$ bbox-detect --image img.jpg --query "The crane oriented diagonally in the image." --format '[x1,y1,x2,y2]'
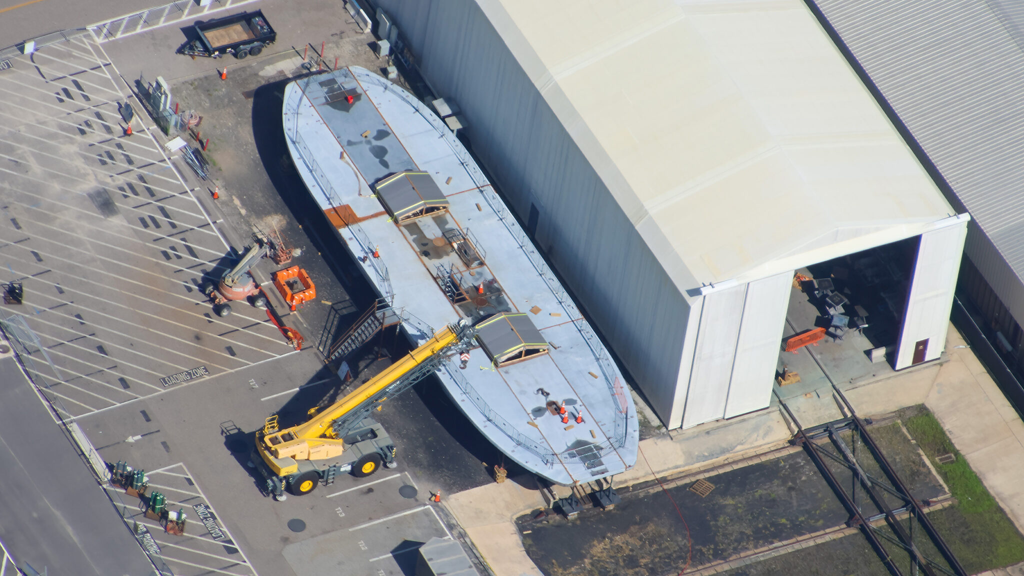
[253,311,478,503]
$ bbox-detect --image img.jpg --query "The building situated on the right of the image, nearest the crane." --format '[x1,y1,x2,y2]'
[374,0,973,431]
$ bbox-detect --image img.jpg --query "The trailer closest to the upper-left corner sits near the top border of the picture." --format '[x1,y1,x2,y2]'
[171,12,276,63]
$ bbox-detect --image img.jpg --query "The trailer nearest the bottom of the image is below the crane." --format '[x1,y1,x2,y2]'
[415,536,484,576]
